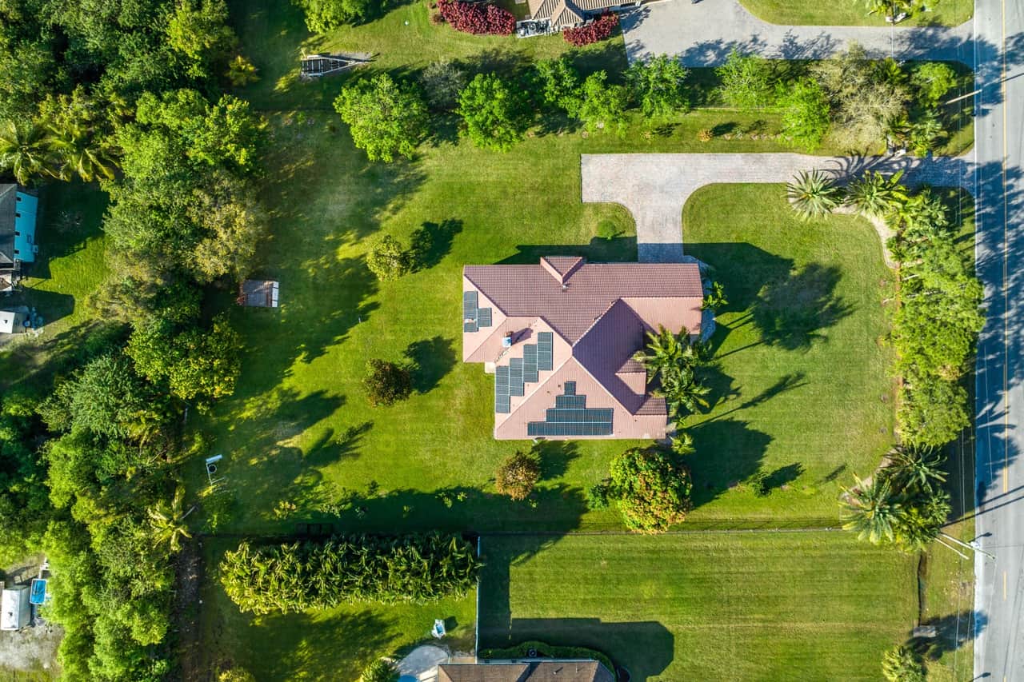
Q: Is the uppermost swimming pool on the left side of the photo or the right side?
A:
left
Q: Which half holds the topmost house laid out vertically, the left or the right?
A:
left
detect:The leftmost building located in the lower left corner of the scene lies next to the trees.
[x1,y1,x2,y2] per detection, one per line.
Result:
[2,581,35,631]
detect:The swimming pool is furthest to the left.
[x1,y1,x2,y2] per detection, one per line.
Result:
[31,575,53,605]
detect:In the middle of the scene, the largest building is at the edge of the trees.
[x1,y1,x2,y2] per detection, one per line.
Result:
[463,256,703,444]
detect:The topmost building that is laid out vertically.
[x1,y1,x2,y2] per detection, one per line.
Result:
[0,182,38,271]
